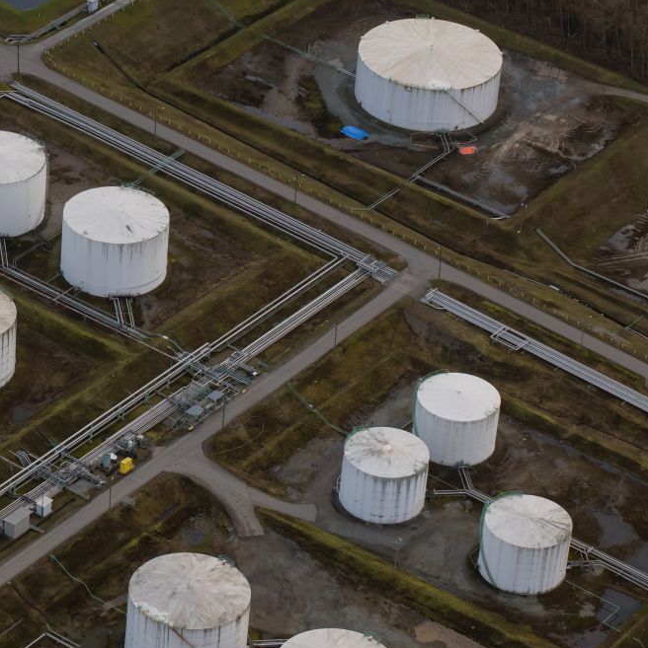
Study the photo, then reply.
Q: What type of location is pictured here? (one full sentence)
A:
The picture captures an industrial area.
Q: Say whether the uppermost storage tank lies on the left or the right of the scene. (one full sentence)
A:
The uppermost storage tank sits on the right side.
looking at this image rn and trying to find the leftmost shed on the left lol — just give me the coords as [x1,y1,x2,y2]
[2,507,31,540]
